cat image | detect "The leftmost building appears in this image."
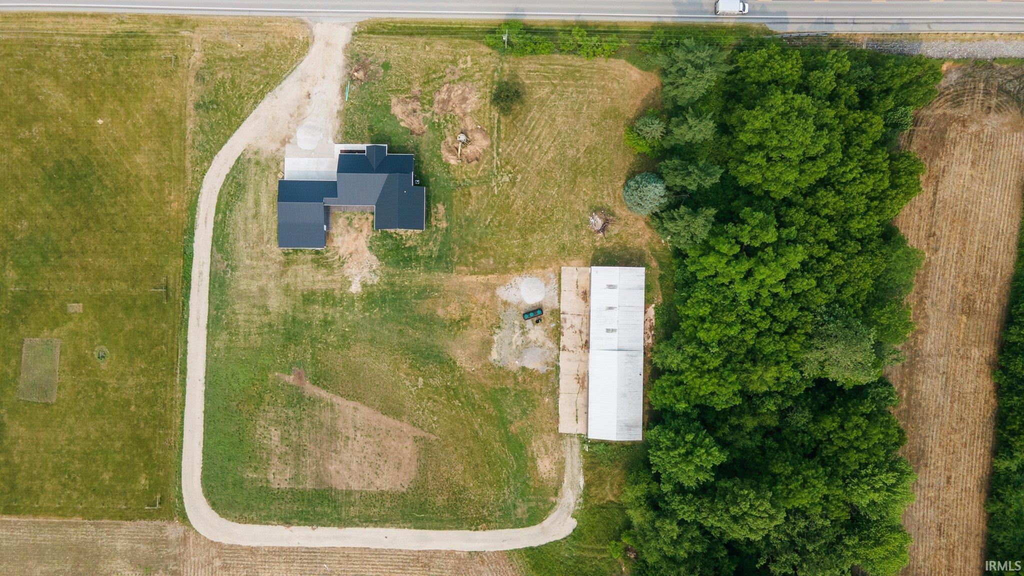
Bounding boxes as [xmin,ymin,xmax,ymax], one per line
[277,144,426,248]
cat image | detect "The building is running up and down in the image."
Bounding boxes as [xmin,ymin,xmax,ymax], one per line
[586,266,645,441]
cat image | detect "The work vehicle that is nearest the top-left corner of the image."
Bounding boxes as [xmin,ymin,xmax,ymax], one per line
[455,132,474,164]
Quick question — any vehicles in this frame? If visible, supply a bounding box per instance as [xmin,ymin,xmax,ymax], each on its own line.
[715,0,748,15]
[455,132,474,164]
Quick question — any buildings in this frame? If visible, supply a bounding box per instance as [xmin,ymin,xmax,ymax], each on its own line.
[586,266,645,441]
[277,144,426,248]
